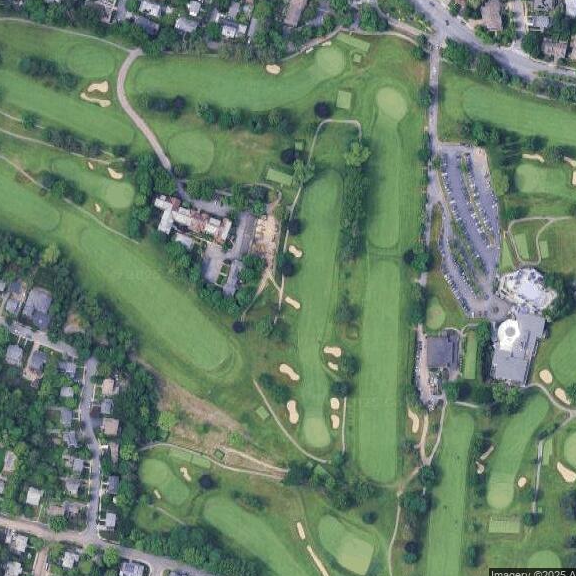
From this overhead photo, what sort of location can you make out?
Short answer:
golf course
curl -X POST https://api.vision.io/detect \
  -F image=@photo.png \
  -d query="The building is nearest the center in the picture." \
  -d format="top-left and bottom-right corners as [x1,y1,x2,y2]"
[235,214,257,254]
